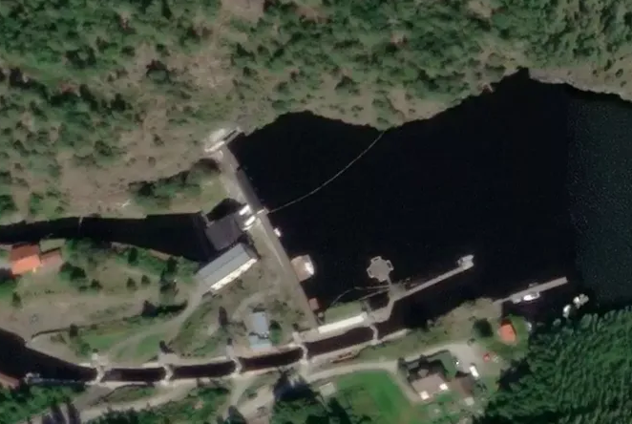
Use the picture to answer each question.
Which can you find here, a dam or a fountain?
dam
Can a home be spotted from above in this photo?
Yes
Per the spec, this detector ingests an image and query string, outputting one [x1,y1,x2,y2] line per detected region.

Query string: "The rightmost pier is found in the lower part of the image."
[492,276,568,304]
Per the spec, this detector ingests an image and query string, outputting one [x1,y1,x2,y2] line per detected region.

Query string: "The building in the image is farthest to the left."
[9,247,43,276]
